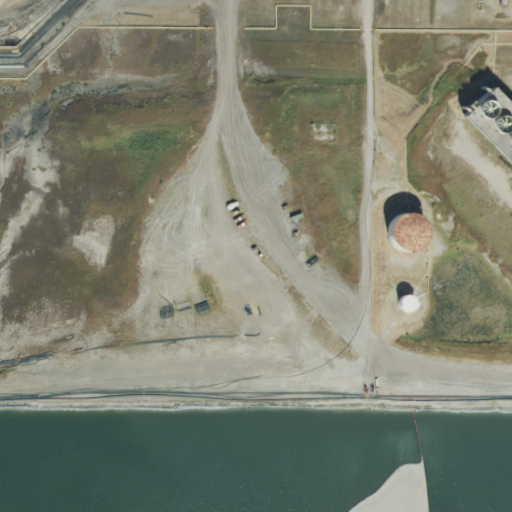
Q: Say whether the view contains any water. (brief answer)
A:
Yes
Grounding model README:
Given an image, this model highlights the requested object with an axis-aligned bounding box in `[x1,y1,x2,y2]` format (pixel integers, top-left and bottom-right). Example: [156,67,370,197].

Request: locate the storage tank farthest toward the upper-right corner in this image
[386,212,433,252]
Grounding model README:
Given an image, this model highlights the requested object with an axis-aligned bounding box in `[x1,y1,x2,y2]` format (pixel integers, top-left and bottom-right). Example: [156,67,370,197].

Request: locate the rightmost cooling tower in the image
[462,86,512,162]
